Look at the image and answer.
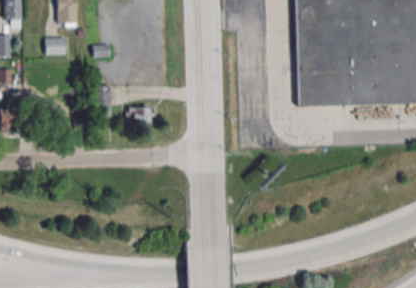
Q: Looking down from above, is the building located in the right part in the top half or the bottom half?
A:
top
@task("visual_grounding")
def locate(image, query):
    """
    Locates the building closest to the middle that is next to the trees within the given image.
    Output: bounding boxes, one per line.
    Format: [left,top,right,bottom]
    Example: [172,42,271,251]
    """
[126,106,154,124]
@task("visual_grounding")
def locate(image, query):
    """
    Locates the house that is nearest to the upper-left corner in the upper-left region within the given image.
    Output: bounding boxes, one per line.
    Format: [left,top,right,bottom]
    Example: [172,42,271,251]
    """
[4,0,23,20]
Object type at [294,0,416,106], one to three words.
building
